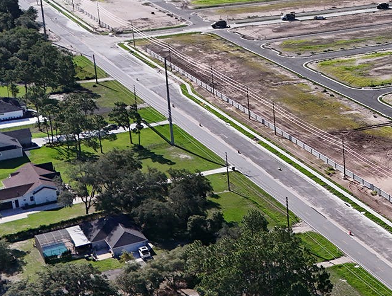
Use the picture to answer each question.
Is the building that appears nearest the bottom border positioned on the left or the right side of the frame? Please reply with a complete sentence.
It is on the left.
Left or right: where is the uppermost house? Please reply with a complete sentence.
The uppermost house appears in the left half of the scene.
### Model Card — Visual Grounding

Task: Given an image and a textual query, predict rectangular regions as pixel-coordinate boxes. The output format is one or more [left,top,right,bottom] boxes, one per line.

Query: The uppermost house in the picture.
[0,98,26,120]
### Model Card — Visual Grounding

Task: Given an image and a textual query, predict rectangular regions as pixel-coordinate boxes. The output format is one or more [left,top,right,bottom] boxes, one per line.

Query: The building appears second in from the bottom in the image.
[0,163,65,210]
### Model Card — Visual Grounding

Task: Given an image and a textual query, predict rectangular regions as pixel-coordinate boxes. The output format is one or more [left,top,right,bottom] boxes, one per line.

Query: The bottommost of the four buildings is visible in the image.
[33,213,148,264]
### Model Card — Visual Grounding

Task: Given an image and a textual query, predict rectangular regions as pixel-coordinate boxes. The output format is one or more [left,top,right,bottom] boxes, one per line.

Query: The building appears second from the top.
[0,129,35,160]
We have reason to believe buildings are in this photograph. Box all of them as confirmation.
[0,129,35,160]
[33,213,148,264]
[0,98,26,120]
[0,163,65,210]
